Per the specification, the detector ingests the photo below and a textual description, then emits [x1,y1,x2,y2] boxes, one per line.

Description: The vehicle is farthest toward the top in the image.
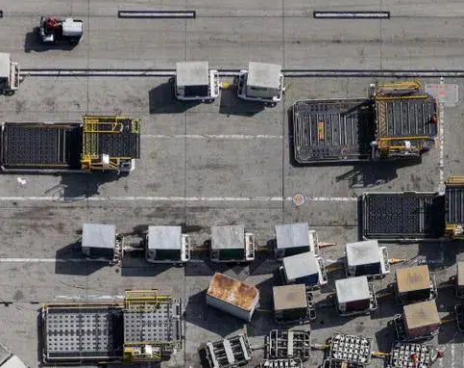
[39,21,83,48]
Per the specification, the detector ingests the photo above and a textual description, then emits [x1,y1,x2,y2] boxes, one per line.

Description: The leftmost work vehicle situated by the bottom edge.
[42,296,182,368]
